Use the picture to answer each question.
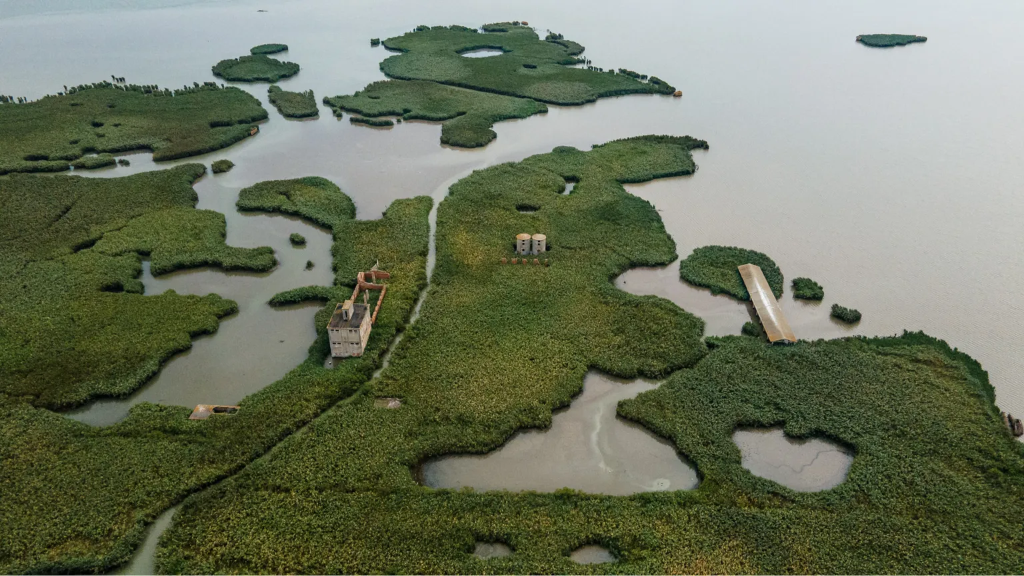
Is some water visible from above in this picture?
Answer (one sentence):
Yes, there's water in this view.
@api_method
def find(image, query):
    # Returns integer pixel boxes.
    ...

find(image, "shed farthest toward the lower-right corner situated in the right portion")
[737,263,797,349]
